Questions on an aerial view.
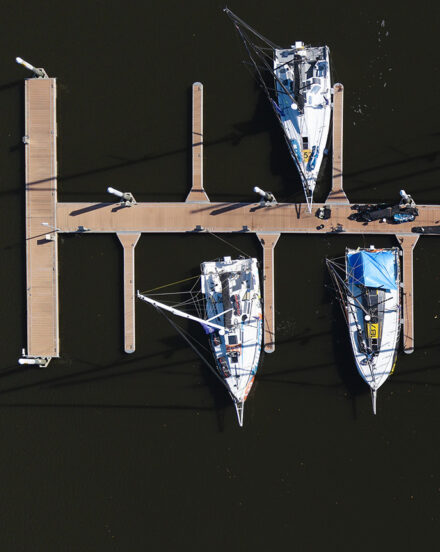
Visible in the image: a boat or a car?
boat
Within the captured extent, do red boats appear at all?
No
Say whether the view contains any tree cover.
No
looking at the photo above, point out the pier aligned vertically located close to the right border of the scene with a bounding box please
[395,234,419,353]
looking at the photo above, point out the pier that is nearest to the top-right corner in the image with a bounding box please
[326,86,350,204]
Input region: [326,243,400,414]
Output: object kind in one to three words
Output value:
boat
